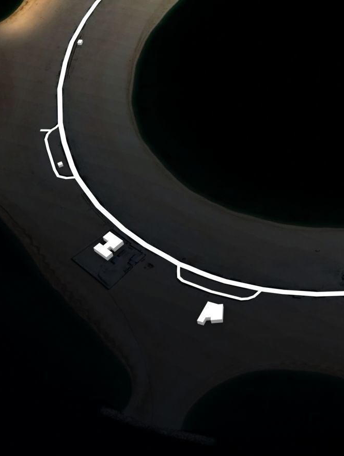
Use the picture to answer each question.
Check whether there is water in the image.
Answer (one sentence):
Yes, some water is visible.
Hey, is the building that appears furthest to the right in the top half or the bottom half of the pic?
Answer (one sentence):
The building that appears furthest to the right is in the bottom half of the image.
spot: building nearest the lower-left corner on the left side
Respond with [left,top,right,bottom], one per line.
[94,232,124,260]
